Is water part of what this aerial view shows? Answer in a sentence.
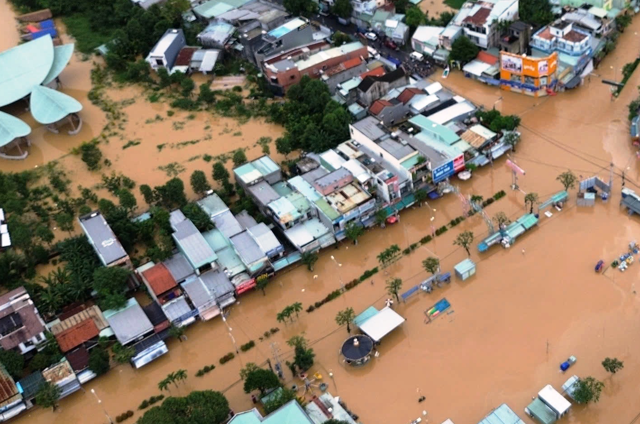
Yes, there is water in the image.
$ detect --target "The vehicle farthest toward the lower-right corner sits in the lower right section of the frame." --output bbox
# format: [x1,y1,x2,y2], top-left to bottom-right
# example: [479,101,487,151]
[560,352,579,371]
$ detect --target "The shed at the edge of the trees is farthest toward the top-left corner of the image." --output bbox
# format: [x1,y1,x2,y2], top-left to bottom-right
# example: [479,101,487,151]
[15,8,56,33]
